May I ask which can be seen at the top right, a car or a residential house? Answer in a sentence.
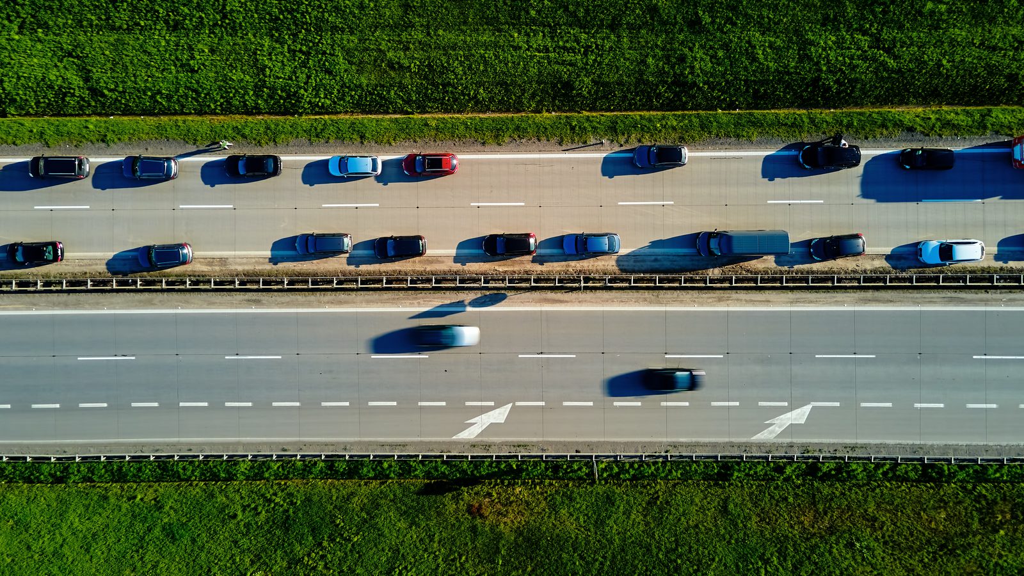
Looking at the top right, you will find a car.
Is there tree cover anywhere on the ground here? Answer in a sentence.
No, there's no tree cover in this view.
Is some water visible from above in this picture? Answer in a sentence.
No, there's no water in this view.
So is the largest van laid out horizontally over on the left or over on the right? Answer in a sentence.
You can find the largest van laid out horizontally on the right side of the picture.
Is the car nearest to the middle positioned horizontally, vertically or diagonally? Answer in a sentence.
The car nearest to the middle has been laid out horizontally relative to the frame.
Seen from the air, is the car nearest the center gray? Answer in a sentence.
No, the color of the car nearest the center is black.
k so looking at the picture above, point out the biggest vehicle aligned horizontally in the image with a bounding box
[693,227,790,260]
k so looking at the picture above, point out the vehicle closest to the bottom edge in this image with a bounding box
[643,367,704,394]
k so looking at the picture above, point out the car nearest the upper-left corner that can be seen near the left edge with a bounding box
[27,153,92,181]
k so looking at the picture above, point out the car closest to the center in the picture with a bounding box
[482,231,537,258]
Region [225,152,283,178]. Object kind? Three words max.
car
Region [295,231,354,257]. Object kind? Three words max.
car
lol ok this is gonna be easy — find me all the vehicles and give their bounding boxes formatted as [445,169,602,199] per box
[295,231,354,257]
[328,152,383,179]
[633,142,688,169]
[225,152,283,178]
[374,234,427,260]
[482,231,537,258]
[6,239,67,267]
[693,227,790,260]
[563,231,621,257]
[798,134,860,171]
[899,145,958,172]
[402,150,459,178]
[643,367,704,394]
[916,237,984,265]
[1008,132,1024,171]
[808,234,866,262]
[136,242,195,269]
[420,323,480,350]
[27,153,92,181]
[121,153,181,181]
